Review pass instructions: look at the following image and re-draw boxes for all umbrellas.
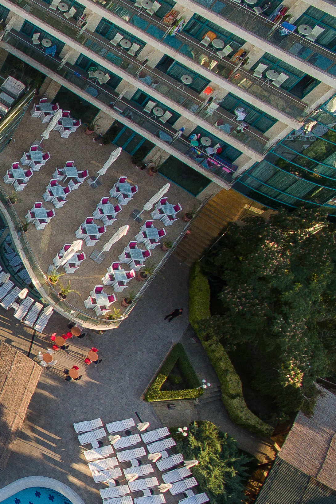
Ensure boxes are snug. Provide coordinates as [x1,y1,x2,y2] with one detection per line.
[42,242,76,276]
[88,229,125,266]
[148,483,170,496]
[124,423,146,436]
[85,150,120,190]
[137,454,156,465]
[29,109,60,150]
[97,435,118,447]
[129,187,167,224]
[115,474,136,486]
